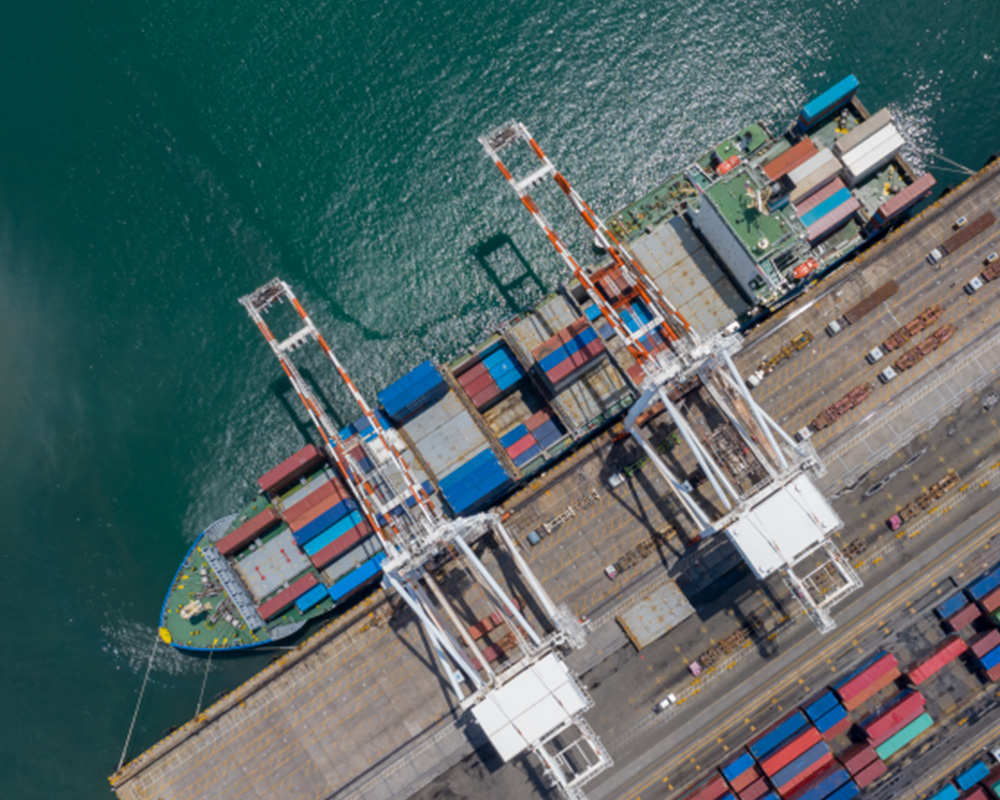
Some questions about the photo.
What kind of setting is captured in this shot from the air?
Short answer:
port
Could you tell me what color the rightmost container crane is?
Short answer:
white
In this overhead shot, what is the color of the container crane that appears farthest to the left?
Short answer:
white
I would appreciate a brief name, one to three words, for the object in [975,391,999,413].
car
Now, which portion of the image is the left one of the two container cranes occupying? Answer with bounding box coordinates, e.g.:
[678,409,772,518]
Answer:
[238,274,618,800]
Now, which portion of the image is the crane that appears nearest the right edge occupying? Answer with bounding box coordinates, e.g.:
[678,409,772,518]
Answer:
[474,112,870,636]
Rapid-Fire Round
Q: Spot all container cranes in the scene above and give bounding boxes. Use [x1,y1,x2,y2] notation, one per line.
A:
[474,112,870,636]
[238,274,618,800]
